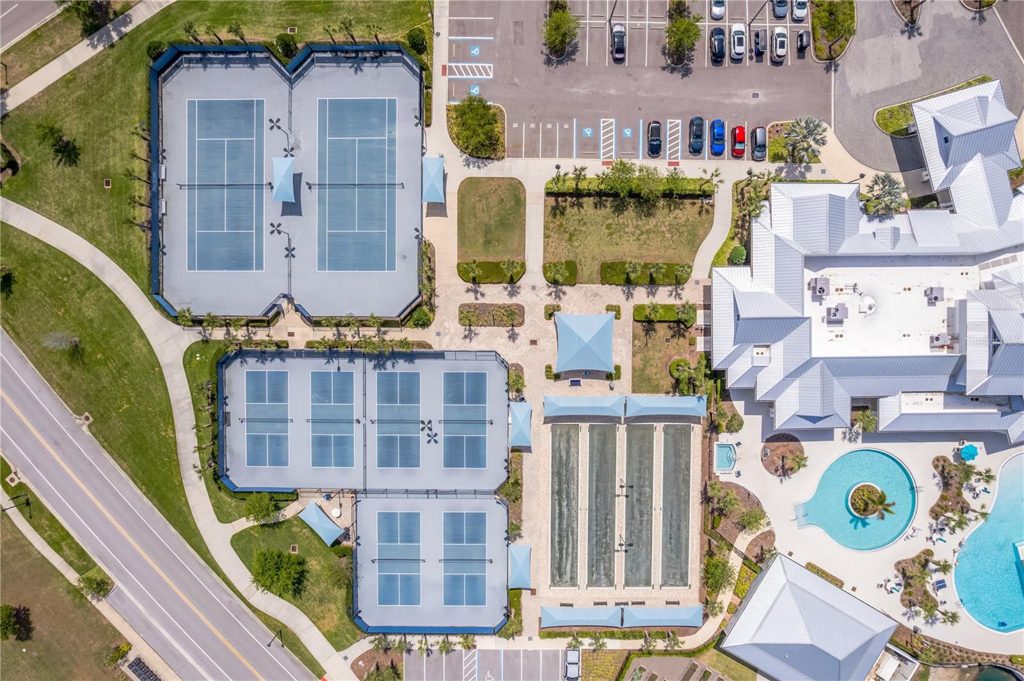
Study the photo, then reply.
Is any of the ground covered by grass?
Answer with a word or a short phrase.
Yes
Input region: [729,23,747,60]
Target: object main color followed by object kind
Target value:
white car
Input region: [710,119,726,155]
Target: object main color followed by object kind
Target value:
blue car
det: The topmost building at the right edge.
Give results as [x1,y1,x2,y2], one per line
[707,78,1024,445]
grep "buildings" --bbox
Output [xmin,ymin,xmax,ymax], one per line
[721,552,899,681]
[707,78,1024,445]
